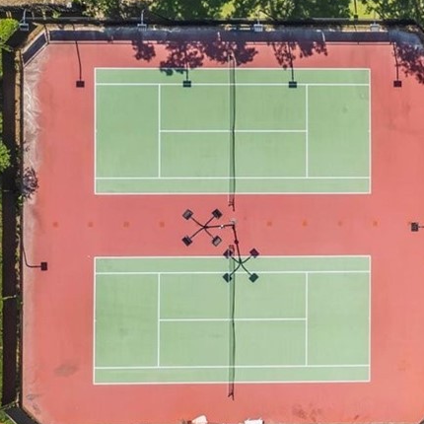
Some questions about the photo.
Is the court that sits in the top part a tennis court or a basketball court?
tennis court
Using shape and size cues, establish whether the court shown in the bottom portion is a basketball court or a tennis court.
tennis court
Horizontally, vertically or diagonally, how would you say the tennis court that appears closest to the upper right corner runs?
horizontally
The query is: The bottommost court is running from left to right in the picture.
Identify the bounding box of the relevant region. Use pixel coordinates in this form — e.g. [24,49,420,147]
[93,256,370,385]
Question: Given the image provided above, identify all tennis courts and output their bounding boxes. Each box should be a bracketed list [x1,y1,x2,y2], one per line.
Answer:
[93,256,370,385]
[93,68,370,195]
